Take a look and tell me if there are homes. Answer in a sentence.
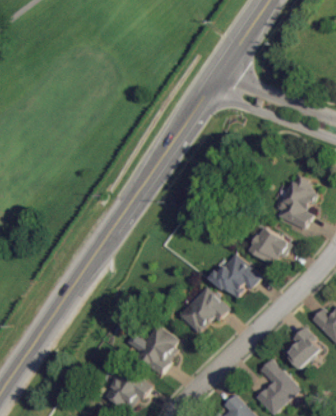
Yes, a home appears in the view.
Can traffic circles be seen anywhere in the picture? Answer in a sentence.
No, no traffic circle can be seen from above.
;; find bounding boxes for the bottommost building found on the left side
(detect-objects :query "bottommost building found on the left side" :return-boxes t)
[106,376,159,406]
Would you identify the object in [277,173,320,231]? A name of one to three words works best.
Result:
house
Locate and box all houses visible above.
[143,328,182,378]
[287,322,324,368]
[246,226,292,264]
[182,288,234,334]
[258,358,302,416]
[106,376,159,406]
[208,250,262,298]
[311,308,336,344]
[277,173,320,231]
[224,396,262,416]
